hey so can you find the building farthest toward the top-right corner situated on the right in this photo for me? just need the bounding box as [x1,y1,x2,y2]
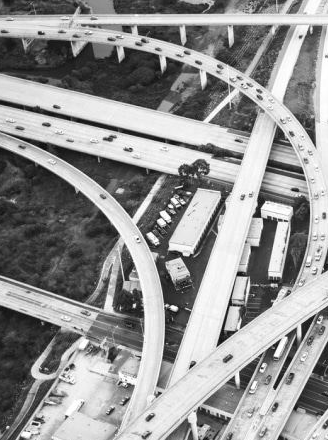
[260,200,292,223]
